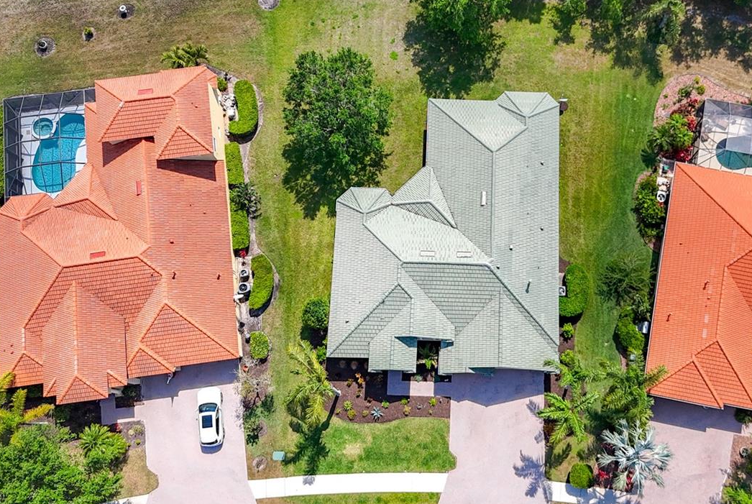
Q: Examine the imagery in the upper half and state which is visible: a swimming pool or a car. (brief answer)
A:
swimming pool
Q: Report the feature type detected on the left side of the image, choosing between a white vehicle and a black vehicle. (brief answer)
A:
white vehicle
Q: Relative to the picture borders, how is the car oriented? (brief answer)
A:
up and down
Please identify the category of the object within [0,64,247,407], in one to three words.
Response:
house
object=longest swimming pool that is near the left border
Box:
[29,111,89,194]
